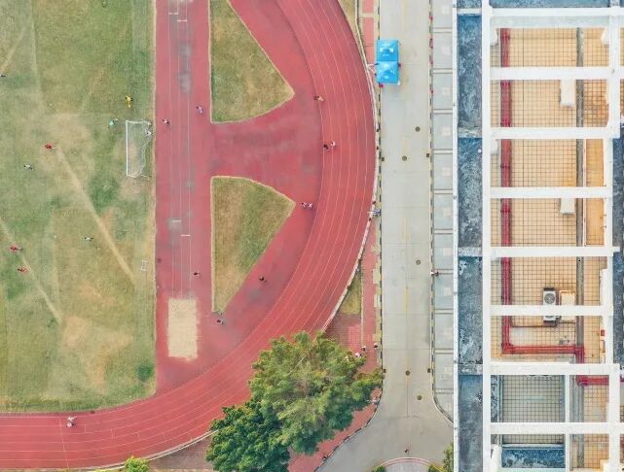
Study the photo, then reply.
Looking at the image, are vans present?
No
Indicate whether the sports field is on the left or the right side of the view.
left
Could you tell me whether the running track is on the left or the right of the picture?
left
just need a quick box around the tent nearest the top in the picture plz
[377,39,400,63]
